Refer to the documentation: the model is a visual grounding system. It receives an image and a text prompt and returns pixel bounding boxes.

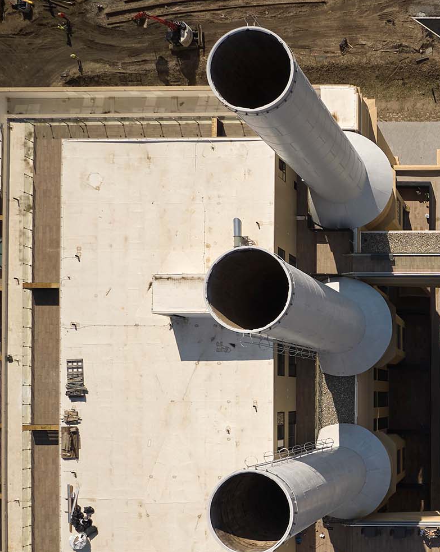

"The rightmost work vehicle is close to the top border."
[143,13,204,48]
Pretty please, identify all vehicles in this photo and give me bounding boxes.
[9,0,36,16]
[143,13,204,48]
